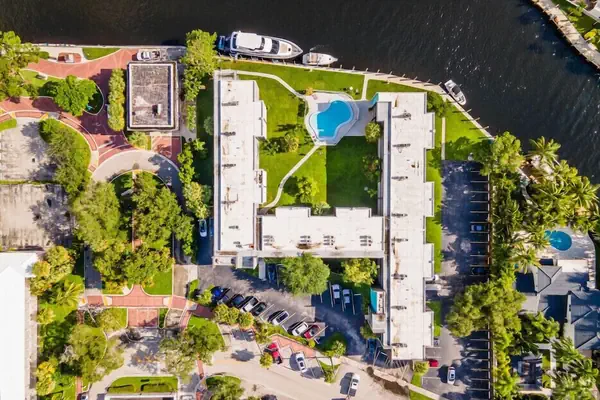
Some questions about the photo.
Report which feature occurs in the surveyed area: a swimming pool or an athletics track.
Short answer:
swimming pool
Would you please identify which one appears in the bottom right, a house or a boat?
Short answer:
house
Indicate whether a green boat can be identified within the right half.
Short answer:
No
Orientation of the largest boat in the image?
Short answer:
from left to right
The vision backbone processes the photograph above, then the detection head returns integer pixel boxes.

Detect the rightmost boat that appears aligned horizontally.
[301,54,337,66]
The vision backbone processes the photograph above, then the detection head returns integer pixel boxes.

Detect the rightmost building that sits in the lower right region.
[531,265,600,343]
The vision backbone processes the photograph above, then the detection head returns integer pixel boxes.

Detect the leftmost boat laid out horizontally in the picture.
[227,32,304,60]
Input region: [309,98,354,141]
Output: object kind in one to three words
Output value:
swimming pool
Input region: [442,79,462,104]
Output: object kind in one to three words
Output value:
boat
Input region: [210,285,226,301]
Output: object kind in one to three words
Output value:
car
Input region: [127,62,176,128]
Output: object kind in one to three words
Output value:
house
